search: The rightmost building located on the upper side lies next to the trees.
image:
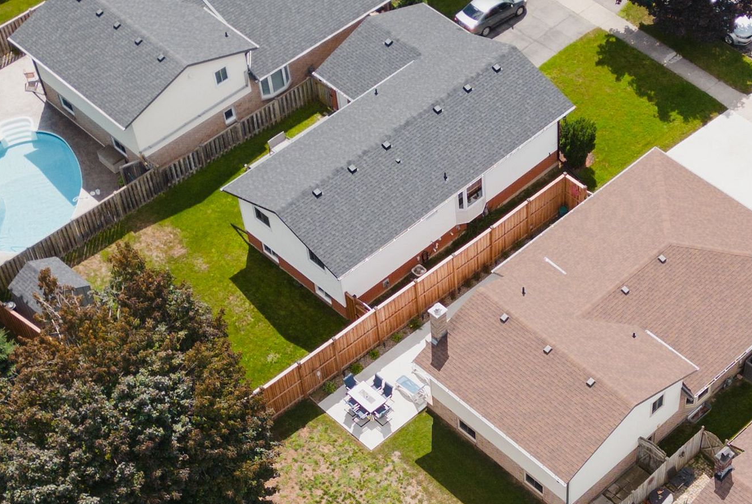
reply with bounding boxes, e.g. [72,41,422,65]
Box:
[218,3,580,318]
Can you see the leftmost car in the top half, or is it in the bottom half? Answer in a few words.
top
